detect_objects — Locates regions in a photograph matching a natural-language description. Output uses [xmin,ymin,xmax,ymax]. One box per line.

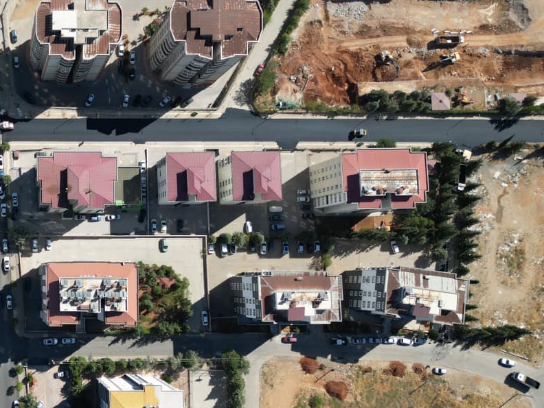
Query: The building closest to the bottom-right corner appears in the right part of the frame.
[347,266,470,326]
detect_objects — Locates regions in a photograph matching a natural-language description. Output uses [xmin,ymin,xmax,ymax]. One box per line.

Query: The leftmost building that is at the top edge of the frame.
[32,0,122,84]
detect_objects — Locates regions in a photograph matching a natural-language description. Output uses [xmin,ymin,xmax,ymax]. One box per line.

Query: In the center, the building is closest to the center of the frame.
[220,151,281,205]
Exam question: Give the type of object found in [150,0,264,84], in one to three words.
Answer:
building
